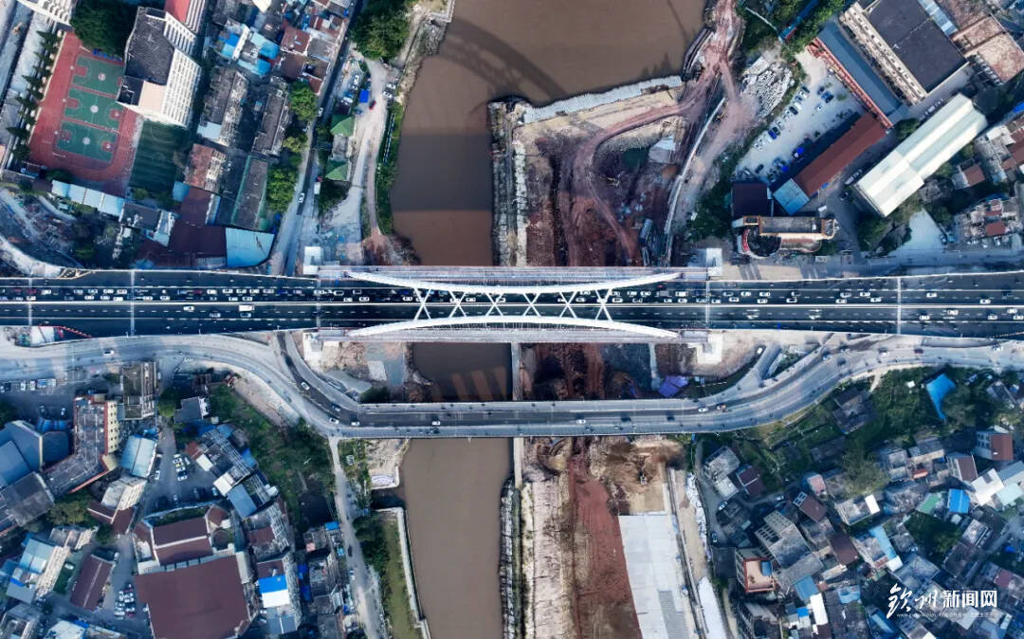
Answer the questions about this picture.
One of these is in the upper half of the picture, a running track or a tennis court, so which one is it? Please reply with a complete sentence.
The one visible in the upper half of the picture is a running track.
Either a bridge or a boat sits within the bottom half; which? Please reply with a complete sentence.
The feature located within the bottom half is a bridge.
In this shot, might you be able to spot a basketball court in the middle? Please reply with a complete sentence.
No, in the middle there is no basketball court.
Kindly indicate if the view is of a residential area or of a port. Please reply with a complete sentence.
The picture captures a residential area.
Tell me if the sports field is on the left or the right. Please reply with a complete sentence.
You can find the sports field on the left side of the picture.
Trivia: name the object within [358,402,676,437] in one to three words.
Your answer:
bridge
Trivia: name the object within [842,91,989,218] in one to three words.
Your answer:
warehouse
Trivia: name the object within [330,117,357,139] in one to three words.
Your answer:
building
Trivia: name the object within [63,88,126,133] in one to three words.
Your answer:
basketball court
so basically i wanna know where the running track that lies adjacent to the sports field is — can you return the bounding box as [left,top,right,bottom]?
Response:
[27,31,142,195]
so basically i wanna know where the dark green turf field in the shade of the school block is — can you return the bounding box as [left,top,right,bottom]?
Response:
[130,115,189,195]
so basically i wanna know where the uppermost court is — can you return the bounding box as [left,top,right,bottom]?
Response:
[72,55,128,94]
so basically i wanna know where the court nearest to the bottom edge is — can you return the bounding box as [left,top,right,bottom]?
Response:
[55,122,120,162]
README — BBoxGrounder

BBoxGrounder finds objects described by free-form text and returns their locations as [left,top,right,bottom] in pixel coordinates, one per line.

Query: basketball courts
[72,55,128,94]
[63,88,126,133]
[55,122,120,162]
